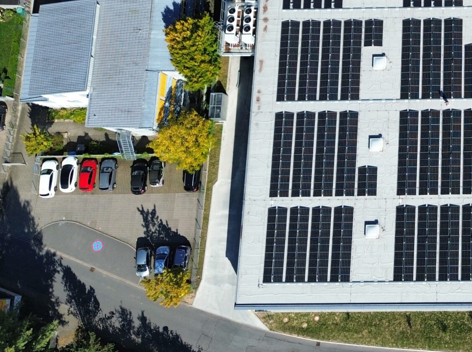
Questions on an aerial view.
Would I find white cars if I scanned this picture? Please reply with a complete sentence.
Yes, there is a white car in the image.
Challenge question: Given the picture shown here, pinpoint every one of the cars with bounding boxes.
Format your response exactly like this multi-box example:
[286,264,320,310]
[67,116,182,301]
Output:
[183,162,203,196]
[98,158,120,192]
[78,159,102,192]
[58,157,83,193]
[133,245,155,279]
[0,102,12,132]
[151,242,174,277]
[39,161,62,196]
[130,159,149,193]
[171,241,193,274]
[149,158,167,186]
